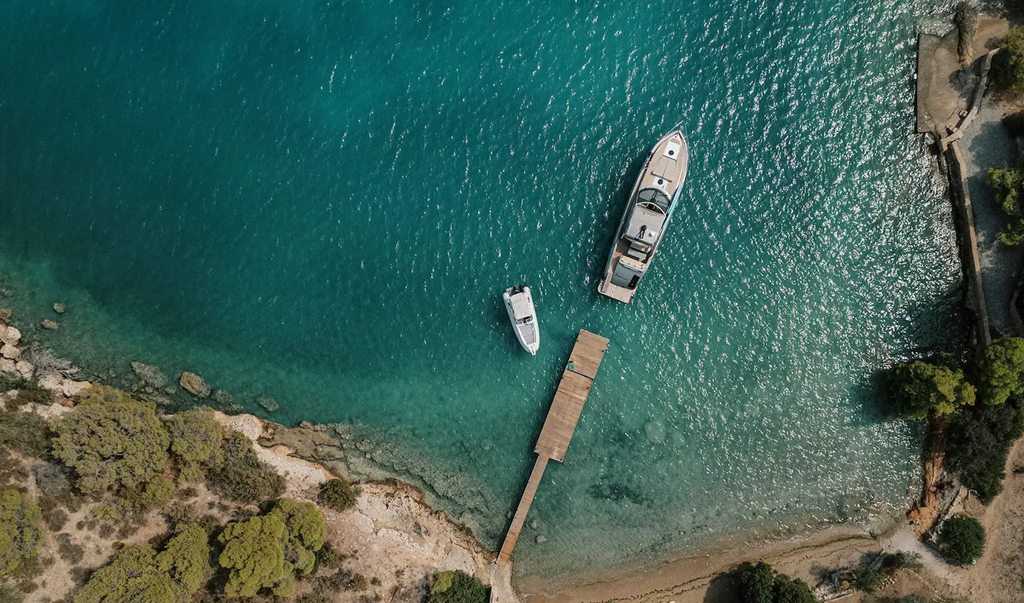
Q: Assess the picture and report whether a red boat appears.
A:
No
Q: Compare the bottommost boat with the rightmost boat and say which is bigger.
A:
the rightmost boat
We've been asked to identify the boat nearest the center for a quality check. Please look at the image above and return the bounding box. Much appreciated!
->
[502,283,540,357]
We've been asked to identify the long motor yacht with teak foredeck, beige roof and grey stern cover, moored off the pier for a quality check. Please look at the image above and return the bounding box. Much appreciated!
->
[599,120,692,302]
